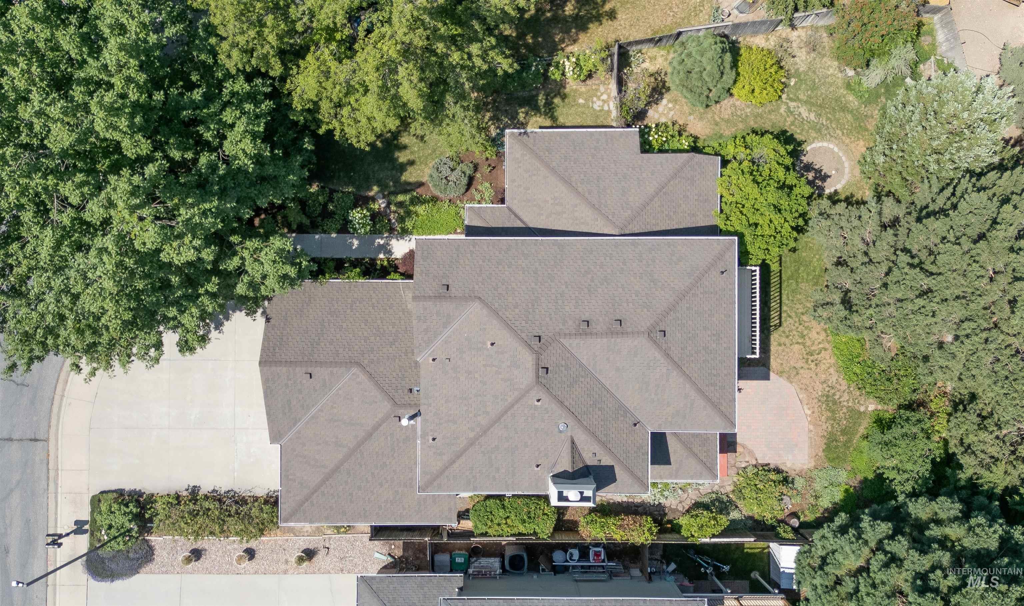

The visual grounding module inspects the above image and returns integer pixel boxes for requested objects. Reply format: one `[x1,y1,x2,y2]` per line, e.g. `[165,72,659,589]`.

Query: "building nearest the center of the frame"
[257,127,760,528]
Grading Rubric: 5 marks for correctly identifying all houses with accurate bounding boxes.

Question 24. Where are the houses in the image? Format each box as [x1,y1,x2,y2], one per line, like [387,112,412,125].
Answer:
[355,564,710,606]
[257,127,760,528]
